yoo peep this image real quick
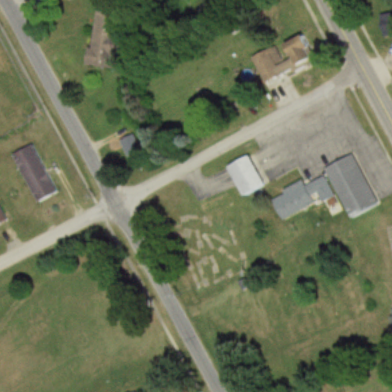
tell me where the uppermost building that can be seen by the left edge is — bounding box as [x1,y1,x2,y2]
[13,144,58,202]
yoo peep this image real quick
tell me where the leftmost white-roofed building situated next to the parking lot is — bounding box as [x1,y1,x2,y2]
[226,156,264,198]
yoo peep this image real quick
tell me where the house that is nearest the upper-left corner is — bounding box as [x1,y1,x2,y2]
[85,12,112,70]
